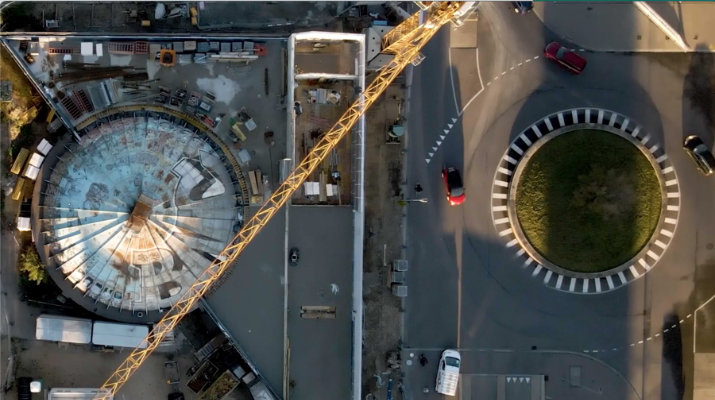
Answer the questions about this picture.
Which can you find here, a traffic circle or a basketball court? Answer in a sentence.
Visible in the photo is a traffic circle.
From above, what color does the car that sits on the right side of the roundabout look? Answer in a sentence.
The car that sits on the right side of the roundabout is black.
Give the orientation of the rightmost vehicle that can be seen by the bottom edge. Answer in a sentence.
I'd say the rightmost vehicle that can be seen by the bottom edge is aligned vertically in the picture.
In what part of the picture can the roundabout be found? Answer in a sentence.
You can find the roundabout in the right area of the picture.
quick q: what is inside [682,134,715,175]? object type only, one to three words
car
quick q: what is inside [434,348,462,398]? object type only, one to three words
vehicle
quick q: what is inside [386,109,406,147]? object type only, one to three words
work vehicle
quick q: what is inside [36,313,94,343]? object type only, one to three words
building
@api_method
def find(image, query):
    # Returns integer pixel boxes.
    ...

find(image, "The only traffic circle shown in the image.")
[492,107,680,295]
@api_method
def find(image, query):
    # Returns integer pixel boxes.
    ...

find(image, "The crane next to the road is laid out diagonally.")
[84,0,471,400]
